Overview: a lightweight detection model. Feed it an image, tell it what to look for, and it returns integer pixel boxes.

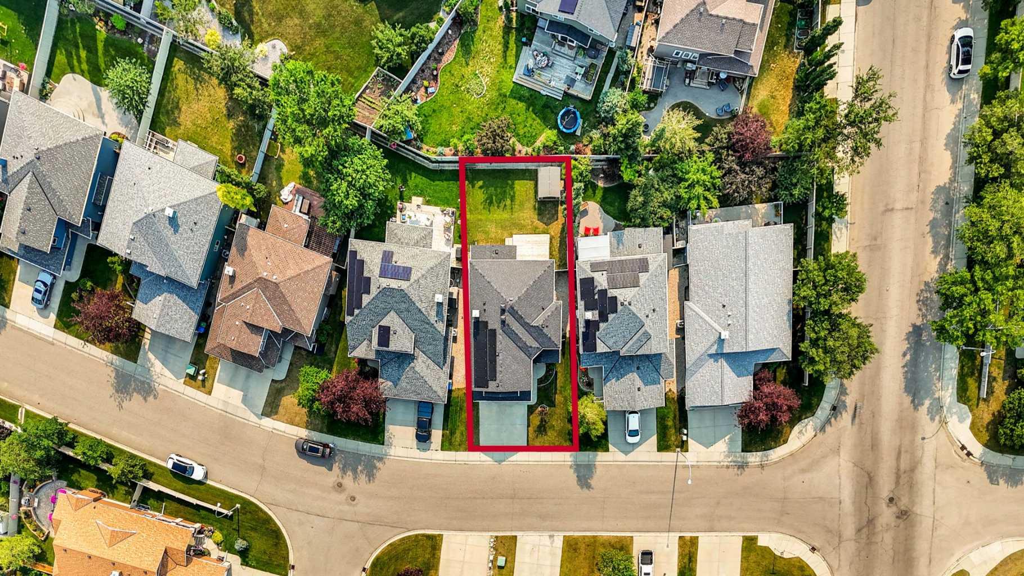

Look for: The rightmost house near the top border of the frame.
[653,0,775,78]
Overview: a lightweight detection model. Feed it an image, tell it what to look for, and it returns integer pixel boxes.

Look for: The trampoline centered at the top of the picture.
[557,106,583,135]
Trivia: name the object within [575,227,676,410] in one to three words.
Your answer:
house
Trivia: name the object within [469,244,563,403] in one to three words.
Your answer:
house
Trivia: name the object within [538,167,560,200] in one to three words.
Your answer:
shed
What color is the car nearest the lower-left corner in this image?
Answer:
white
